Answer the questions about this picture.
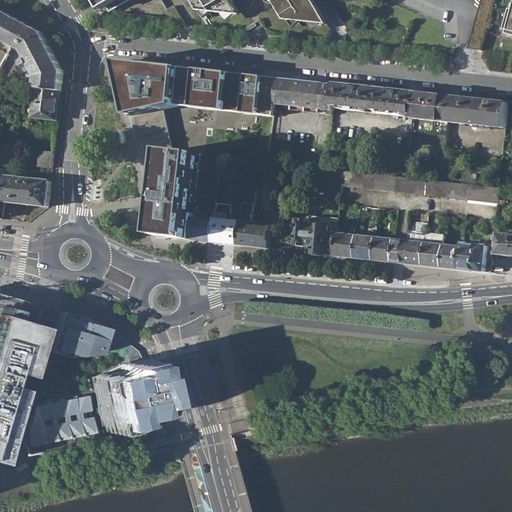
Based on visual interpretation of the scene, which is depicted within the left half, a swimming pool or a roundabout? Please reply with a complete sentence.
The one visible within the left half is a roundabout.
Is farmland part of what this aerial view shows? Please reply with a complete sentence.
No, the picture contains no farmland.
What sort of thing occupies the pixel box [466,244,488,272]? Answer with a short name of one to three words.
house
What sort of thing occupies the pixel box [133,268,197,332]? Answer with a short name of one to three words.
roundabout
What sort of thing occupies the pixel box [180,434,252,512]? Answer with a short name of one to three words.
bridge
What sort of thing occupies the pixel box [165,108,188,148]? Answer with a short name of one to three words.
building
